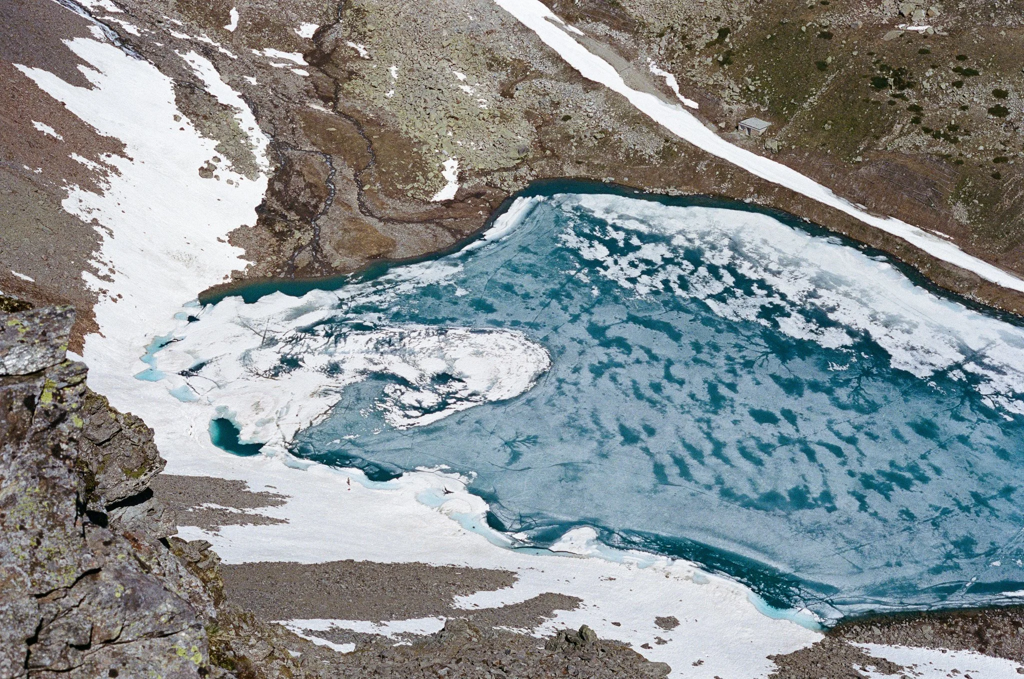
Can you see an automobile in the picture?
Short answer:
No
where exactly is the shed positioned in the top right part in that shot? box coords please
[739,119,769,142]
